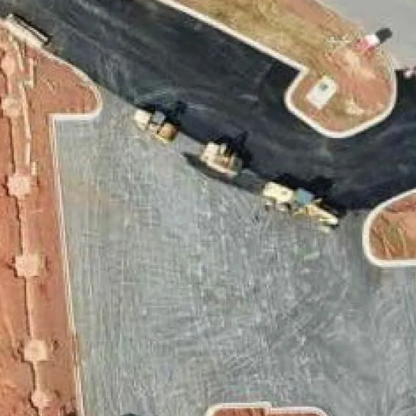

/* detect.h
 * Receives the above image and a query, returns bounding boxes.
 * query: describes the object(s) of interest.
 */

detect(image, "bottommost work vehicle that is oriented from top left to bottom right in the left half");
[137,108,181,146]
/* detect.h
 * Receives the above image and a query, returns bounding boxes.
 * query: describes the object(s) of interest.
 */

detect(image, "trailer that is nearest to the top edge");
[5,10,53,47]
